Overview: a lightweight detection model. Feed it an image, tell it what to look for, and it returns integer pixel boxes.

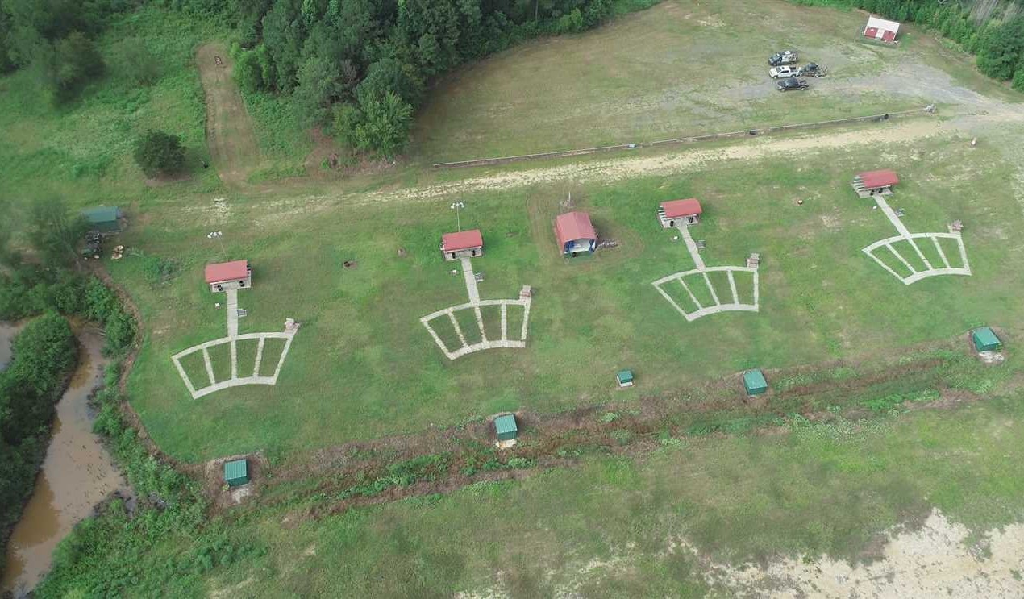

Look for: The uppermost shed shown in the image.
[864,19,901,42]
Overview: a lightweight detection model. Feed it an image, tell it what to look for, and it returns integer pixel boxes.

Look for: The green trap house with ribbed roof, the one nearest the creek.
[227,457,249,483]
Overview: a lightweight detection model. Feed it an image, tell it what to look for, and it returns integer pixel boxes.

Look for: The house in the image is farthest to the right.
[970,326,999,348]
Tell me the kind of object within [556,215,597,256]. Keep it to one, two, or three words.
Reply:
shed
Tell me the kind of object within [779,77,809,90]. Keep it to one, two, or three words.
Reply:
vehicle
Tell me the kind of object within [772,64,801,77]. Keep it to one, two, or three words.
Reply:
vehicle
